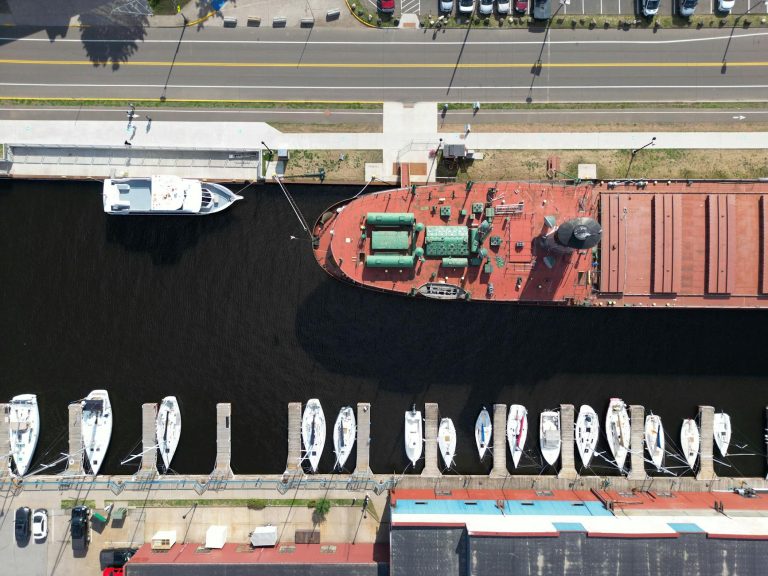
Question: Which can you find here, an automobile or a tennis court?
automobile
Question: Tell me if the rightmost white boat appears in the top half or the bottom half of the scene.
bottom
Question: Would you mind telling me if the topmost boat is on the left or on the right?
left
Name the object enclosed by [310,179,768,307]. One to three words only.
ship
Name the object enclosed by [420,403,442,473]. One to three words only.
pier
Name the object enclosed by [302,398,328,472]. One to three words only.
boat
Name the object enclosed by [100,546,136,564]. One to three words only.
vehicle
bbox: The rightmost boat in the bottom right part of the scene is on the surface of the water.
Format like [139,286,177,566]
[714,410,760,460]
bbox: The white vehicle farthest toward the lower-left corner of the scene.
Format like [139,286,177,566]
[32,507,50,538]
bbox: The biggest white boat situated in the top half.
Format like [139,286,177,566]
[104,176,242,214]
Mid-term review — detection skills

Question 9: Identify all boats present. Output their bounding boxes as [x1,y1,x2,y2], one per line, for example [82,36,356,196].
[714,410,760,460]
[416,284,466,298]
[128,394,184,472]
[474,407,494,460]
[678,418,723,471]
[602,396,665,473]
[438,416,458,469]
[574,404,620,474]
[39,388,118,478]
[644,412,688,471]
[507,404,536,469]
[332,405,357,469]
[104,176,242,214]
[302,398,328,472]
[0,392,45,476]
[404,407,424,471]
[538,410,562,466]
